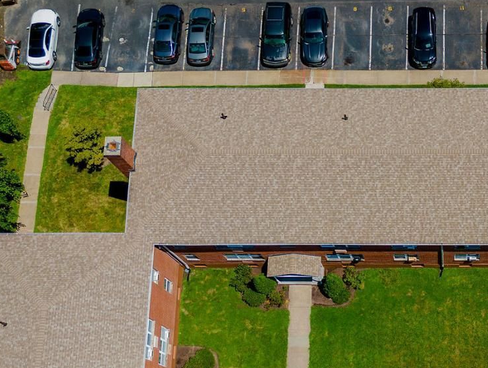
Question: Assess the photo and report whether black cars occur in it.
Yes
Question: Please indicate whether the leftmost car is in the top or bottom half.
top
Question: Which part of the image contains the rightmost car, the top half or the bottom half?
top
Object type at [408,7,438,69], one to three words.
car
